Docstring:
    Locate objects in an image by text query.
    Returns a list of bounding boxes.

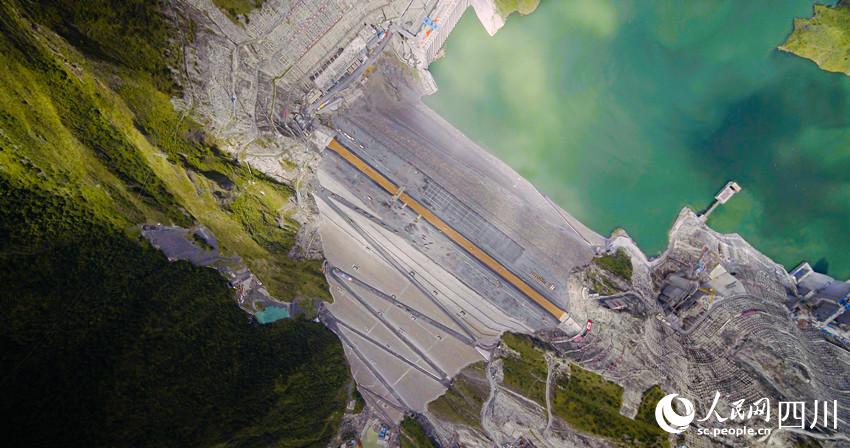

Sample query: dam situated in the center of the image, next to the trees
[314,58,608,433]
